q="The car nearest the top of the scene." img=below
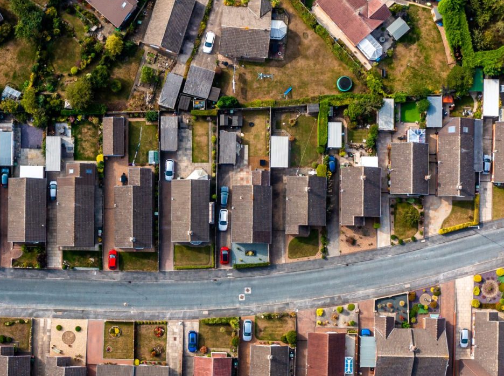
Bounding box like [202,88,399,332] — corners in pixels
[203,31,215,54]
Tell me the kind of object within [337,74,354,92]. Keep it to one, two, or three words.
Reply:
trampoline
